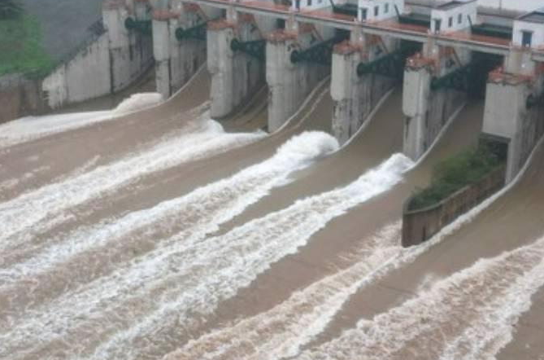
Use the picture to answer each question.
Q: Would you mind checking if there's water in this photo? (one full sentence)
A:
Yes, there's water in this view.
